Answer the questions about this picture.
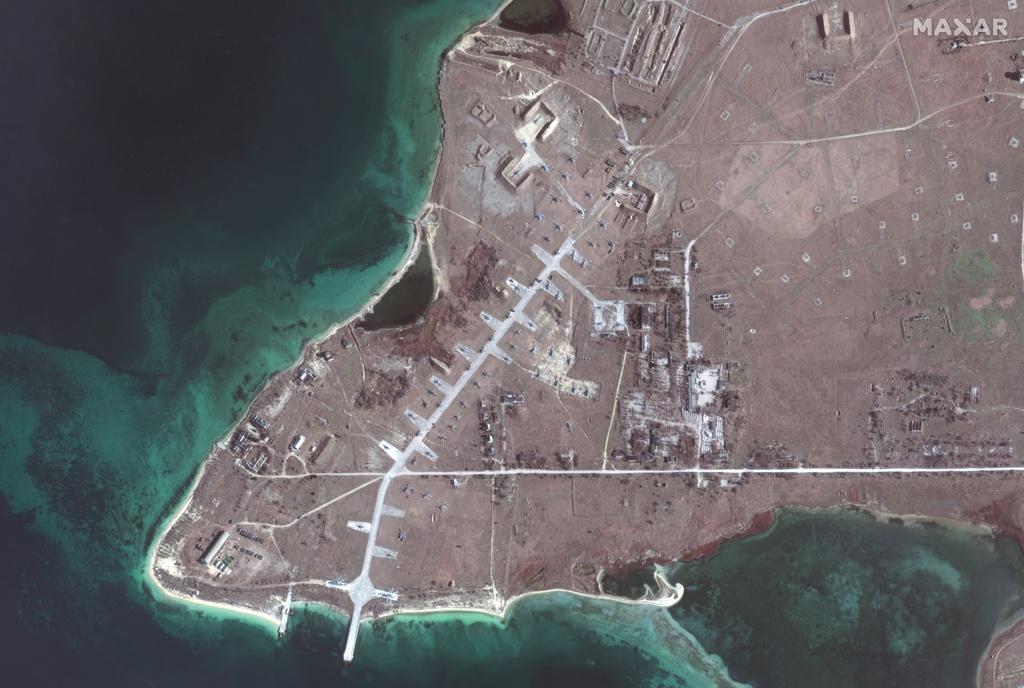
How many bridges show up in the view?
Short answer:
none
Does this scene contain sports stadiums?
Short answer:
No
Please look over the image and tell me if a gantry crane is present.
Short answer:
No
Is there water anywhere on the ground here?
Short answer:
Yes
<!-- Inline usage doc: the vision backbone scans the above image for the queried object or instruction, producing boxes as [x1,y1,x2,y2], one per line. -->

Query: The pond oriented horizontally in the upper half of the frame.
[496,0,569,34]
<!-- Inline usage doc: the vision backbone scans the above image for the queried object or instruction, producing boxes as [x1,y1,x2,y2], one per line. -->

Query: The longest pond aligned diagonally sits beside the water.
[357,242,436,330]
